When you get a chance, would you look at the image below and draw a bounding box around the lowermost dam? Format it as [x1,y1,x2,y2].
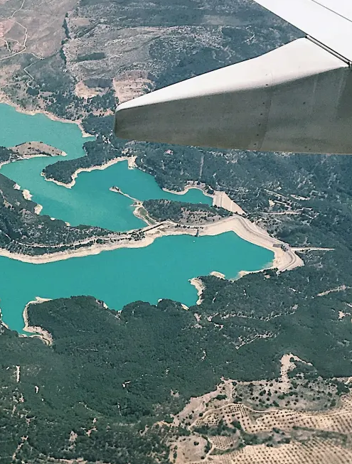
[212,213,303,273]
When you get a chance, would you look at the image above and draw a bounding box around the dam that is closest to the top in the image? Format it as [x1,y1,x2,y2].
[212,190,244,215]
